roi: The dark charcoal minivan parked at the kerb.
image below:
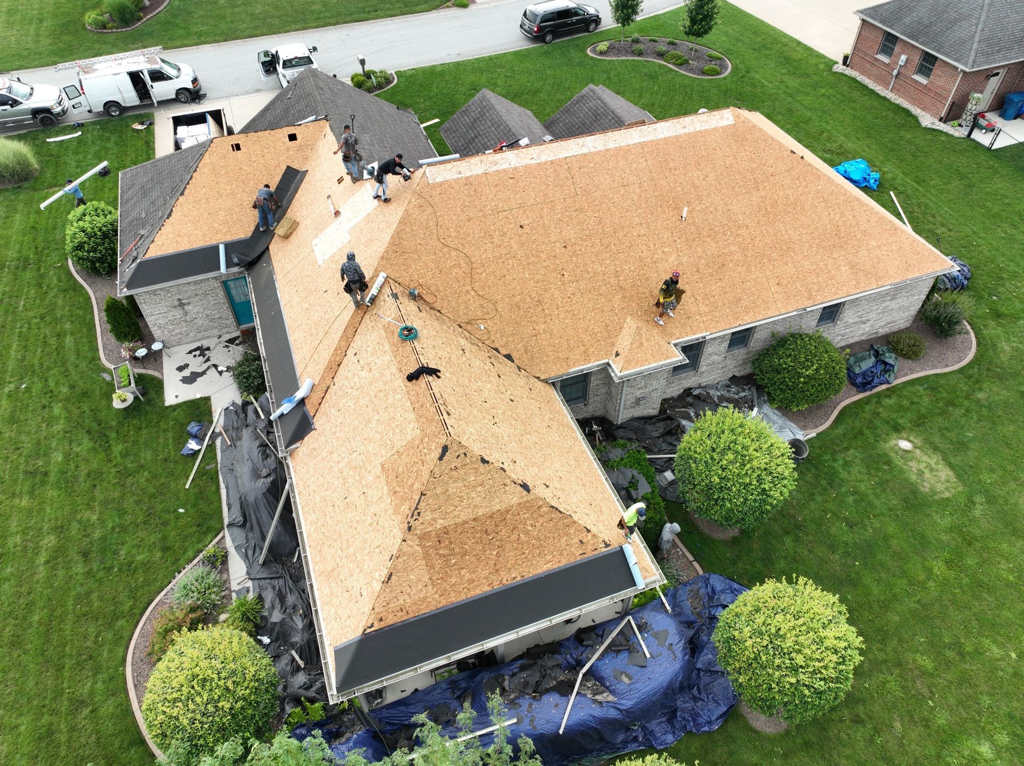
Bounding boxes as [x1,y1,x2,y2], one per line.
[518,0,608,41]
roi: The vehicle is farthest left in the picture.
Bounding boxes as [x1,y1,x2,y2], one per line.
[0,69,74,128]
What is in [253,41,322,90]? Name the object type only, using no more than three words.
truck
